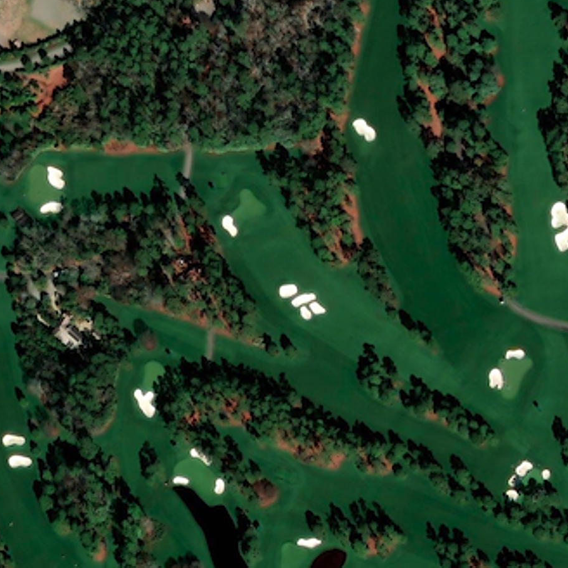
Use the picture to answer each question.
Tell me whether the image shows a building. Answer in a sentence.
Yes, the picture does show a building.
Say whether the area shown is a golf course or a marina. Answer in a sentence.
The picture captures a golf course.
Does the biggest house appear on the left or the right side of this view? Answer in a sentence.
You can find the biggest house on the left side of the picture.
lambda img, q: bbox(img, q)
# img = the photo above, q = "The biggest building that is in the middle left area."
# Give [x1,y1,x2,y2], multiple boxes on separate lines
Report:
[56,314,82,347]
